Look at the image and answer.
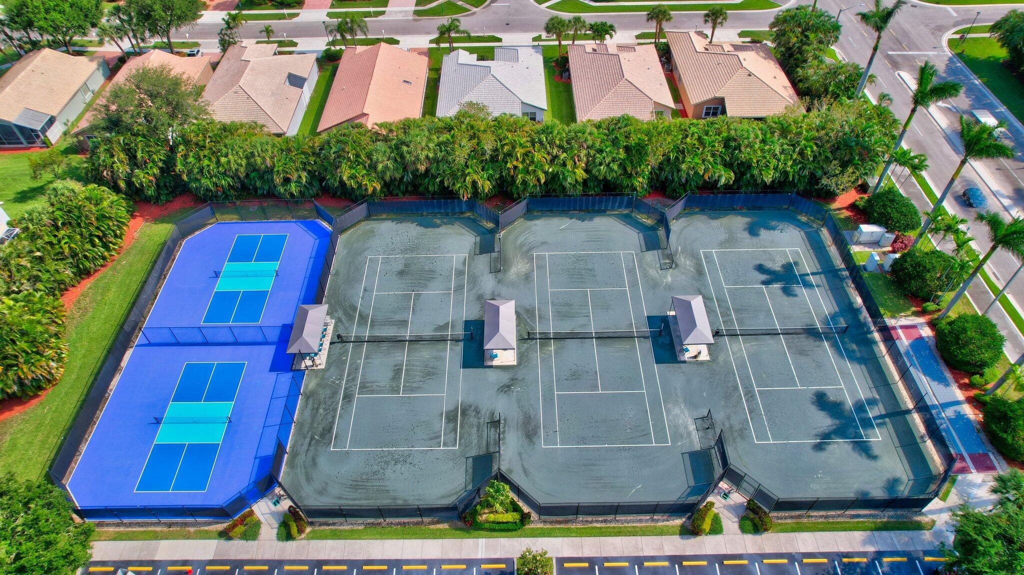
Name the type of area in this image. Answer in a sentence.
This looks like a sports ground.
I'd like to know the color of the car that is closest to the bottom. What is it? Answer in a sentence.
The color of the car that is closest to the bottom is blue.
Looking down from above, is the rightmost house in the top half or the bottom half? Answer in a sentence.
You can find the rightmost house in the top half.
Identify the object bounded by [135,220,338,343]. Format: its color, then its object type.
blue sports court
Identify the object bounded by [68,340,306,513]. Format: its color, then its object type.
blue sports court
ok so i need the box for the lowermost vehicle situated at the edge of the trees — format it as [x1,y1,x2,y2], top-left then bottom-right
[960,184,992,212]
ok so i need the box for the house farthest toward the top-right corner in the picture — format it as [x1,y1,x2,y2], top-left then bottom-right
[666,30,806,132]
